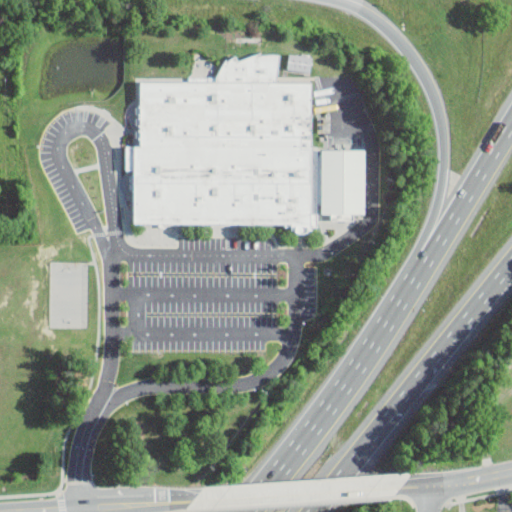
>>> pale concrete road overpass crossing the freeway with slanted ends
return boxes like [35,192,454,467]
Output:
[188,472,410,512]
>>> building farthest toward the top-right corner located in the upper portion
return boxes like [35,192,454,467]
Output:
[288,54,312,76]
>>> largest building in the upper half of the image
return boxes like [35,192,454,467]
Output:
[126,55,320,236]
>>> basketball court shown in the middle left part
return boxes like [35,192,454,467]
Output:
[50,262,88,329]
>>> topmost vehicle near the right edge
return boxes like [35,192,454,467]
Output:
[486,124,504,154]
